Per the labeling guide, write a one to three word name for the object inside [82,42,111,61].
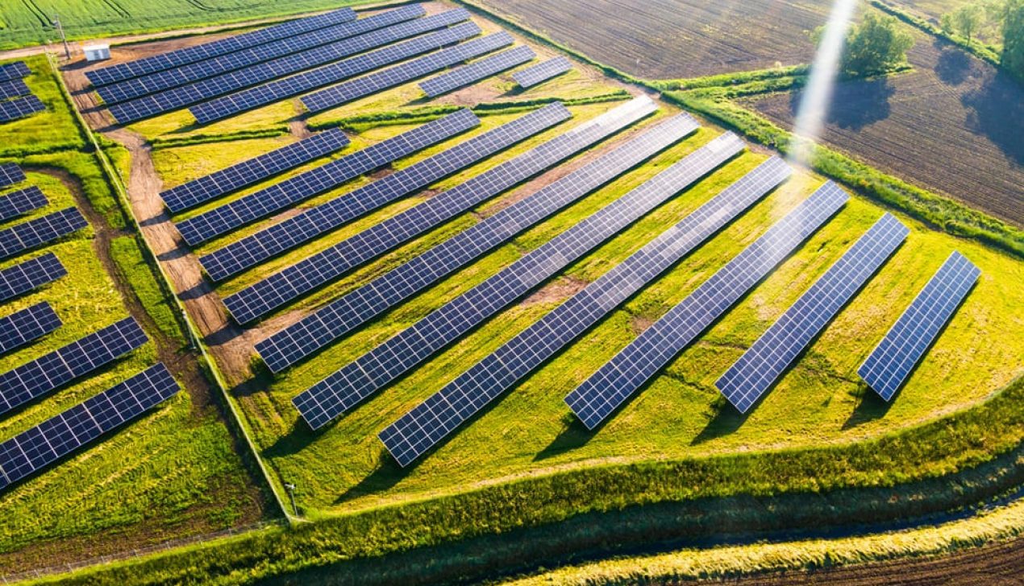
shed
